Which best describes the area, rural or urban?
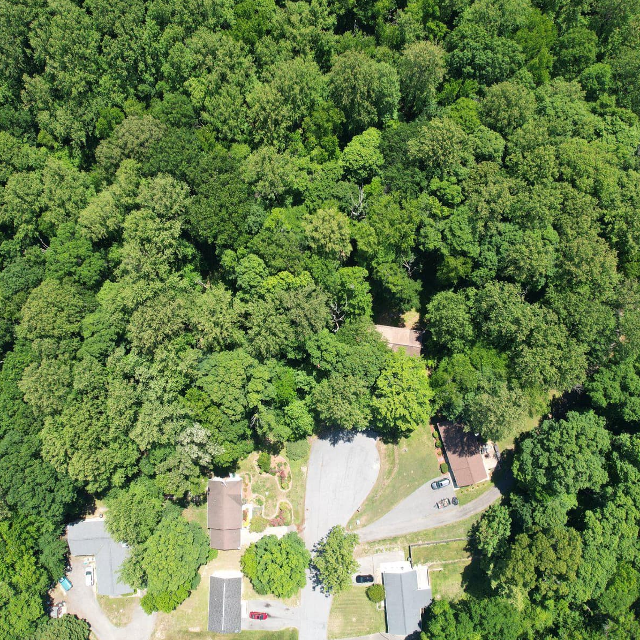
rural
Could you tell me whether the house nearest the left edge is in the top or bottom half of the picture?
bottom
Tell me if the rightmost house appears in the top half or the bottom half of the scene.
bottom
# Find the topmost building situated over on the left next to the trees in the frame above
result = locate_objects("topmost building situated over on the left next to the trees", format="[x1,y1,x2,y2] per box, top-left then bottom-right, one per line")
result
[208,478,244,551]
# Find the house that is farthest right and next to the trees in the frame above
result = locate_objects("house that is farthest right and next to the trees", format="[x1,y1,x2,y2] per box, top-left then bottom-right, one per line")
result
[437,418,489,489]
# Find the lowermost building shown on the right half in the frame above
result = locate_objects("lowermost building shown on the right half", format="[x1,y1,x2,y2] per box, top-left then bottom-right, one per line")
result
[384,562,433,637]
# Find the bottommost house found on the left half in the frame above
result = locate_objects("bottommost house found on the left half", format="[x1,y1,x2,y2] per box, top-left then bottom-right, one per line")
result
[208,573,242,636]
